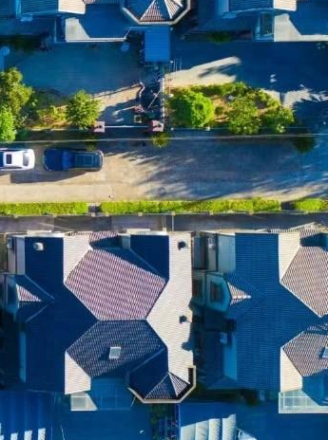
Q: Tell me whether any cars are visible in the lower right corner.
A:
No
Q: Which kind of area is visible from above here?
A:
residential area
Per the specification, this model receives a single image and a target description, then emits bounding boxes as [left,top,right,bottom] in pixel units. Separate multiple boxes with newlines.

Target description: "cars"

[40,145,102,173]
[0,148,34,170]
